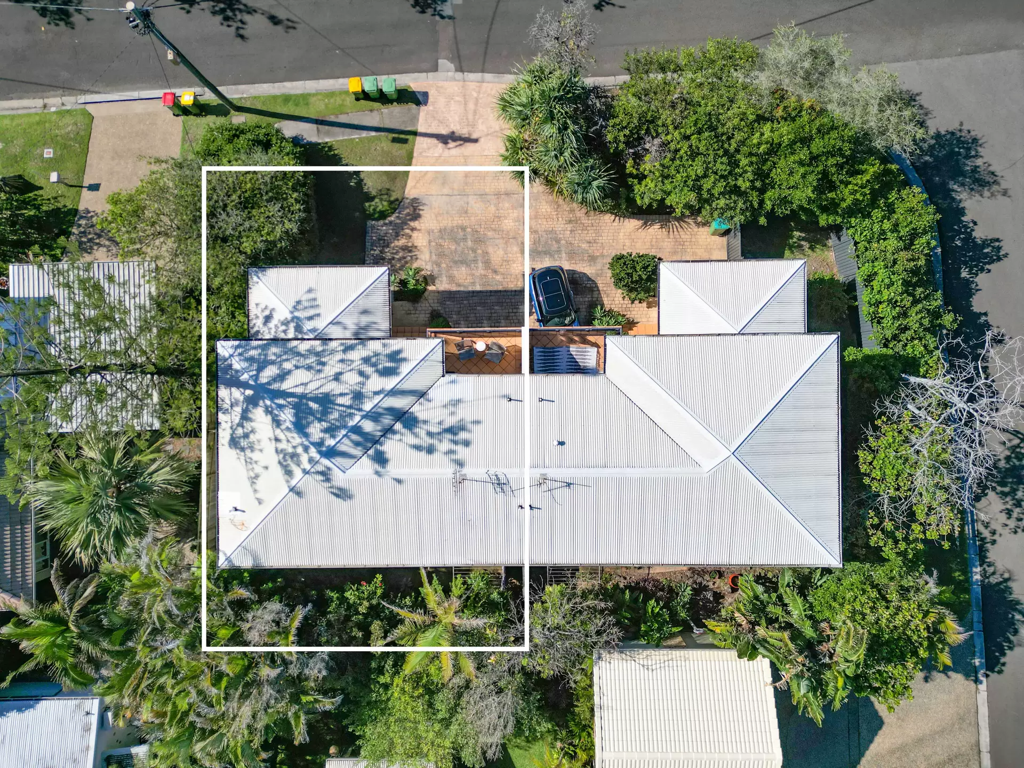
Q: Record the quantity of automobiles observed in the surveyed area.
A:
1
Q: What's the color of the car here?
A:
black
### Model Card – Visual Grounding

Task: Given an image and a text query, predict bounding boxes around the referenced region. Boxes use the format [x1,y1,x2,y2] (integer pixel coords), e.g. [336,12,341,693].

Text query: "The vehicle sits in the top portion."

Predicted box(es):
[530,260,588,328]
